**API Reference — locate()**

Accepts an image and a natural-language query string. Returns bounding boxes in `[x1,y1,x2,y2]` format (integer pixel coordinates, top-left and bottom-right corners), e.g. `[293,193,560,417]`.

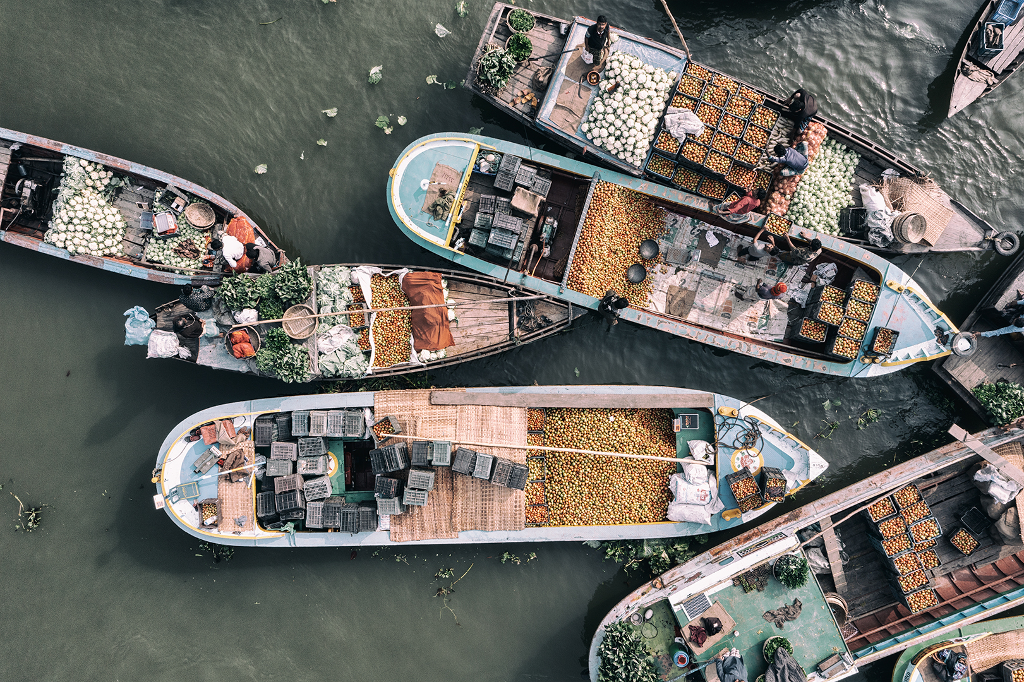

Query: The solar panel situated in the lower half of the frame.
[682,591,714,621]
